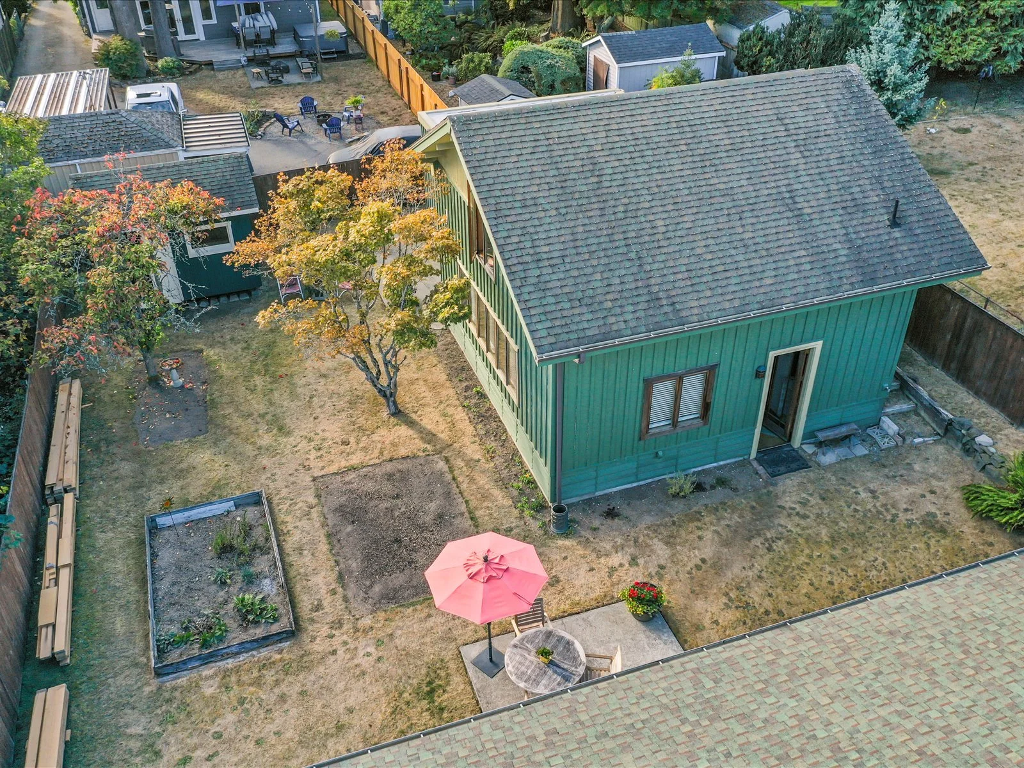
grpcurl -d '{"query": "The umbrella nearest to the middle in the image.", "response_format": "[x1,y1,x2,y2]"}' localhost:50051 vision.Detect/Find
[421,533,554,676]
